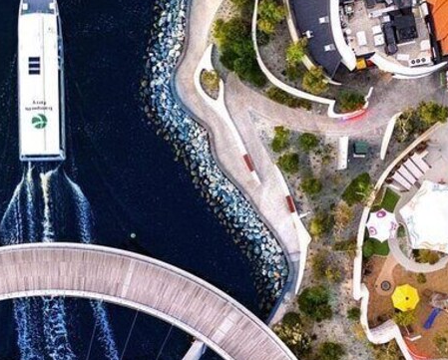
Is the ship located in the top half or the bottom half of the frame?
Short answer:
top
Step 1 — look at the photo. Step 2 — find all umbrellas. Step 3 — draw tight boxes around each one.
[366,210,397,240]
[391,284,416,310]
